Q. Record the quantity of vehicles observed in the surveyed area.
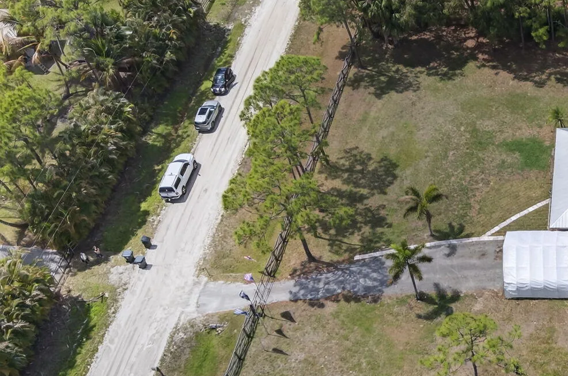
3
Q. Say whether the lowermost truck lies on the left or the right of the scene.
left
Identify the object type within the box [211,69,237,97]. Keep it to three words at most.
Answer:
car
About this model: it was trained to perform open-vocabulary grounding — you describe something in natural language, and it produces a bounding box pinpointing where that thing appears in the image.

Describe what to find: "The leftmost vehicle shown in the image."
[159,158,197,204]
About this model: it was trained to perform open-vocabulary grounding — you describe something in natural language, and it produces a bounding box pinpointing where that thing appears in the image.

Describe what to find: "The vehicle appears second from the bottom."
[195,103,225,134]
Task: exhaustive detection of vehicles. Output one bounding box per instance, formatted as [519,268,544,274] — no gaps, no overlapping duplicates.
[195,103,225,134]
[159,158,197,204]
[211,69,237,97]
